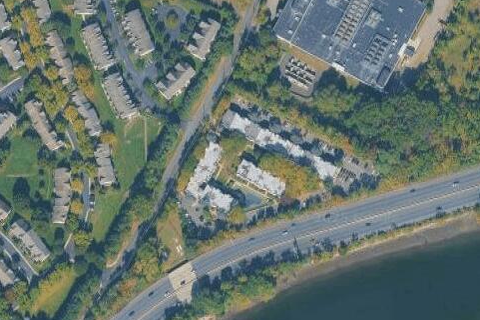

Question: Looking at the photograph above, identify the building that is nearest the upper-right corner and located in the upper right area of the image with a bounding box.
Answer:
[275,0,428,89]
